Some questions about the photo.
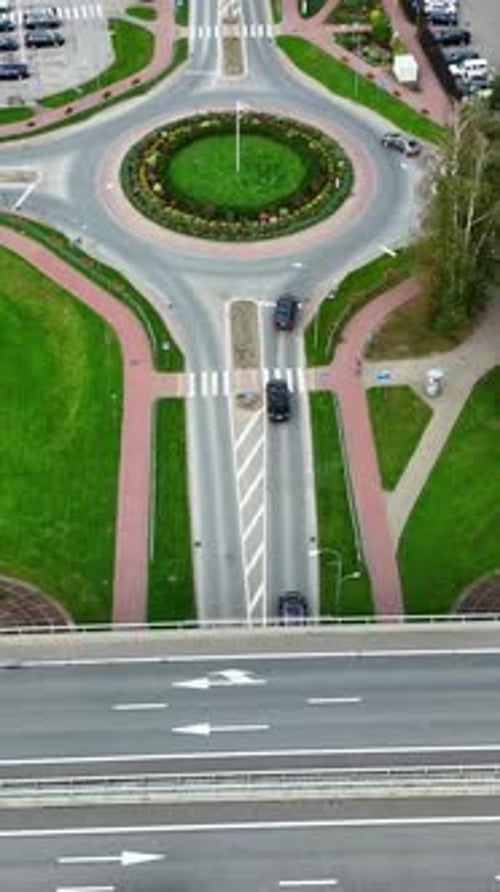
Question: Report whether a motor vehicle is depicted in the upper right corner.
Yes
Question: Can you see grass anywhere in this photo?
Yes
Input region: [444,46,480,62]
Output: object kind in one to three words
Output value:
car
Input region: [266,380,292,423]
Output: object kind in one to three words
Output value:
car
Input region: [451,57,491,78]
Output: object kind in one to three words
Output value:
vehicle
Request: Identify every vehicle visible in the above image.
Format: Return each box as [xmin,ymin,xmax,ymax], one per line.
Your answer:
[266,380,292,423]
[383,134,422,156]
[424,370,446,397]
[0,63,30,80]
[24,10,60,27]
[0,35,17,51]
[277,597,307,625]
[444,46,480,62]
[436,30,472,47]
[0,16,16,32]
[451,57,491,78]
[429,10,463,27]
[0,0,10,12]
[274,296,298,331]
[24,30,64,47]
